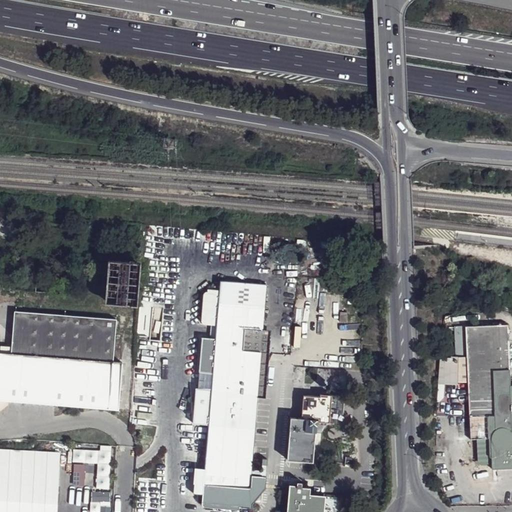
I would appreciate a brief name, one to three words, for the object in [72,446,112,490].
building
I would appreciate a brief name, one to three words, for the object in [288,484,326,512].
building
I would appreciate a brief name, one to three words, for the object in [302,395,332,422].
house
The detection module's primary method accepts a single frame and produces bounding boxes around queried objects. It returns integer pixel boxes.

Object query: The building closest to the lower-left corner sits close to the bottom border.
[0,450,60,512]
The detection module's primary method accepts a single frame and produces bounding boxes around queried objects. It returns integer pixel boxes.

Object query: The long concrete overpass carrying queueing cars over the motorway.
[370,0,412,108]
